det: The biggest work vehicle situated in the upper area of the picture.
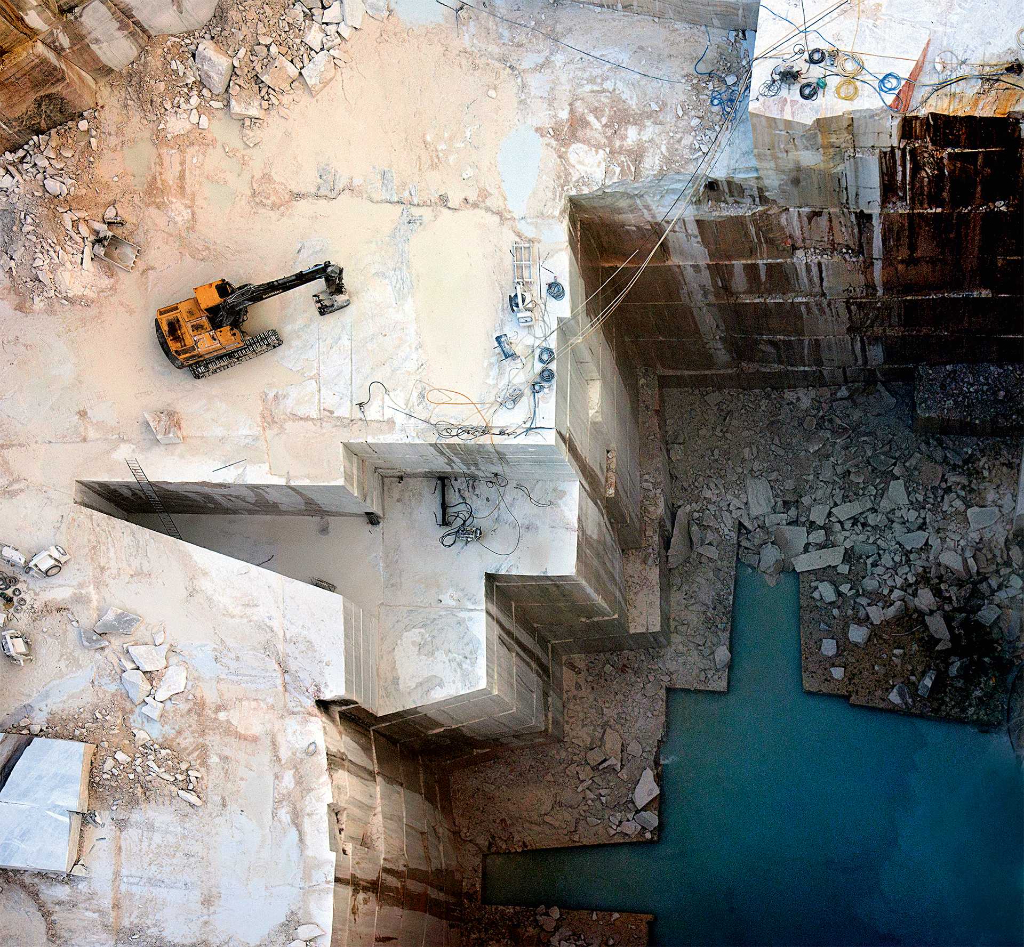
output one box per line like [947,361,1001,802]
[157,261,346,385]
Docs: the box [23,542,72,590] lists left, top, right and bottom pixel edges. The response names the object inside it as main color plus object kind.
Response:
white trailer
